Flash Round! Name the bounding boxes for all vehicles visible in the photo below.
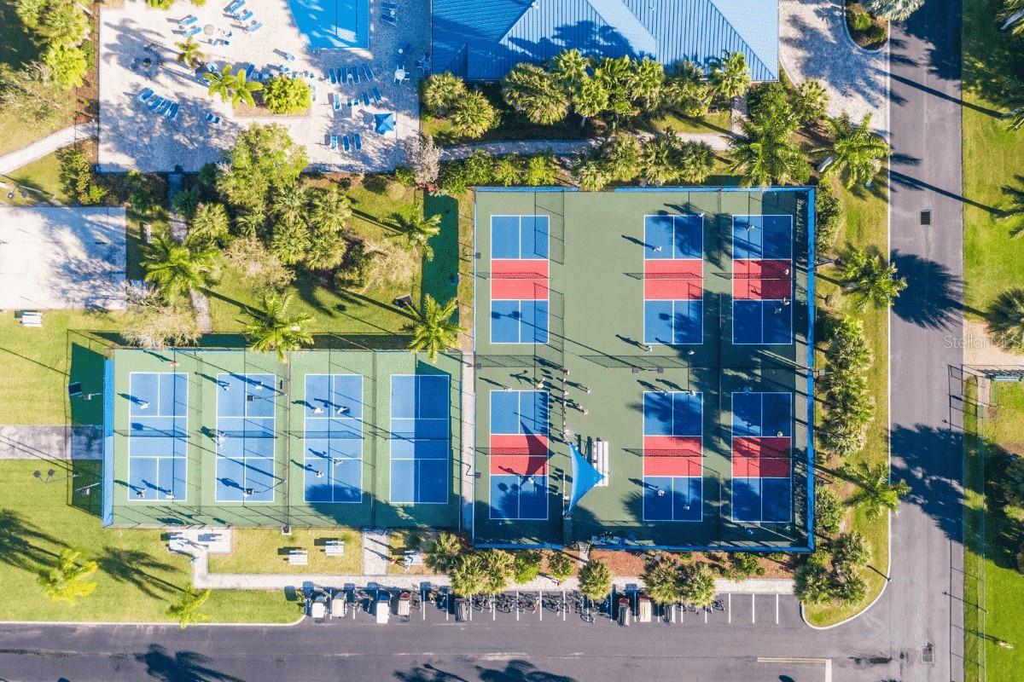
[616,599,630,626]
[377,594,391,621]
[313,594,329,621]
[637,595,651,621]
[332,587,349,615]
[398,589,412,616]
[455,594,469,621]
[660,596,675,623]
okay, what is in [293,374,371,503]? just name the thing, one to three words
sports court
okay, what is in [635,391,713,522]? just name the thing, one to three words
sports court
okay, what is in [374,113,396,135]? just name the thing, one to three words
umbrella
